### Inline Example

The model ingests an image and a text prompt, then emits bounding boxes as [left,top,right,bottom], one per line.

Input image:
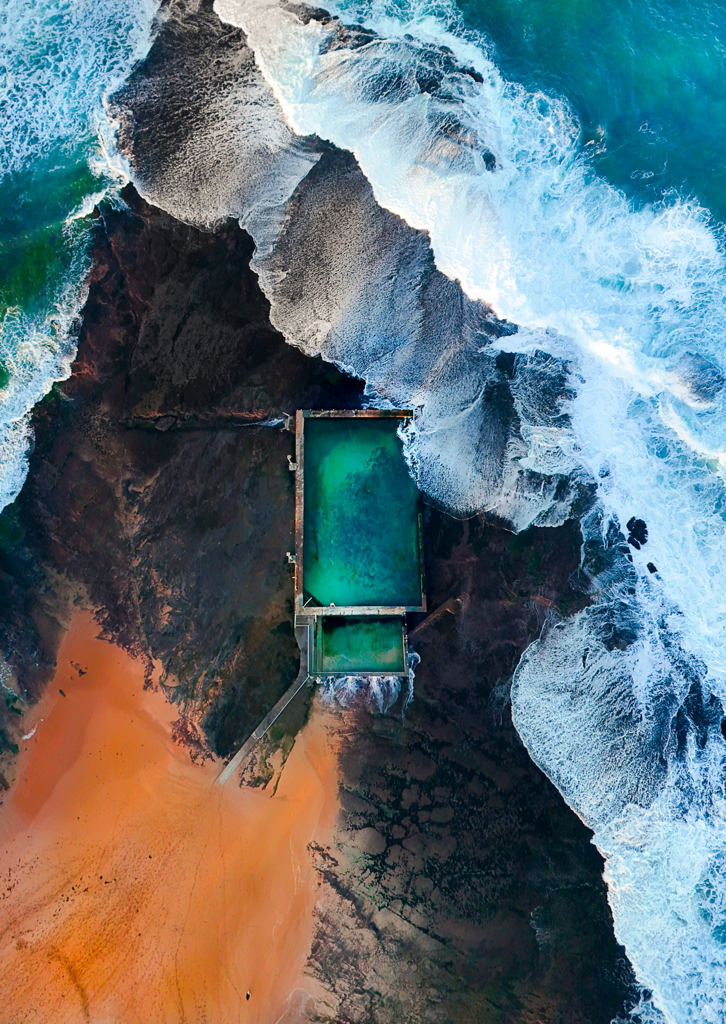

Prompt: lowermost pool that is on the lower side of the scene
[309,613,409,678]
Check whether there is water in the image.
Yes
